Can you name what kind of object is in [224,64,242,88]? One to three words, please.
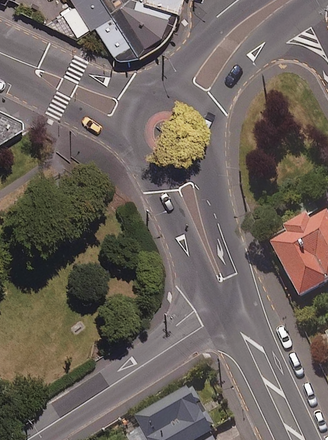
car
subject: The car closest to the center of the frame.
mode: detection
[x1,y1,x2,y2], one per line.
[160,192,174,214]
